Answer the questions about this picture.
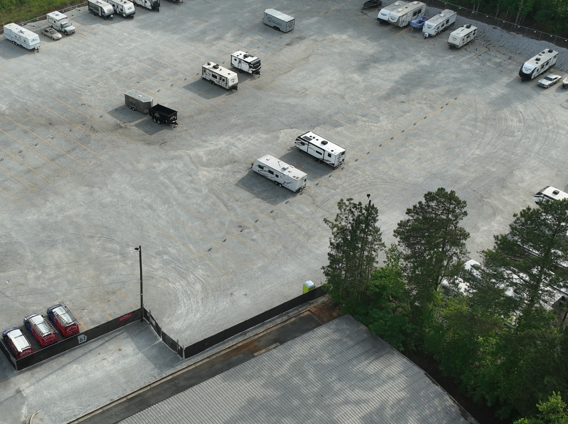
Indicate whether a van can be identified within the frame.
Yes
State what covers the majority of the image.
paved ground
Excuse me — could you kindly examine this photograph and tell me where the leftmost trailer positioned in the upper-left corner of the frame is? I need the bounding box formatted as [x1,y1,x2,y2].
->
[5,23,44,54]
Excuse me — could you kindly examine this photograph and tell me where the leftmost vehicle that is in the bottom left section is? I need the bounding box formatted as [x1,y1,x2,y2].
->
[1,322,37,356]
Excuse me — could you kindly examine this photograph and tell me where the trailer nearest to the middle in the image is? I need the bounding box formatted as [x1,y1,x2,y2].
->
[255,156,308,194]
